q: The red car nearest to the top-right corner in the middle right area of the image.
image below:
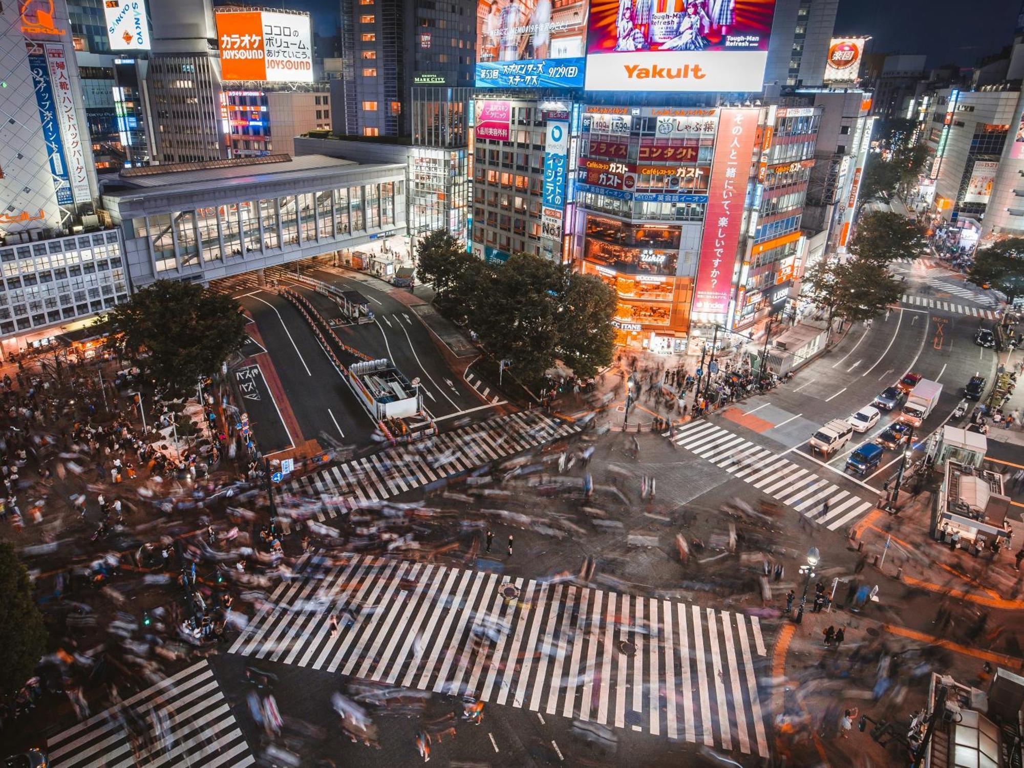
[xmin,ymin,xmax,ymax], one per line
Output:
[899,371,925,391]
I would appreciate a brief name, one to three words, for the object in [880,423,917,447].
car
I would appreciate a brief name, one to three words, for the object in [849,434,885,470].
van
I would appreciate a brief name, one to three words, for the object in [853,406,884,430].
car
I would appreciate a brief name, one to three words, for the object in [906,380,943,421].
truck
